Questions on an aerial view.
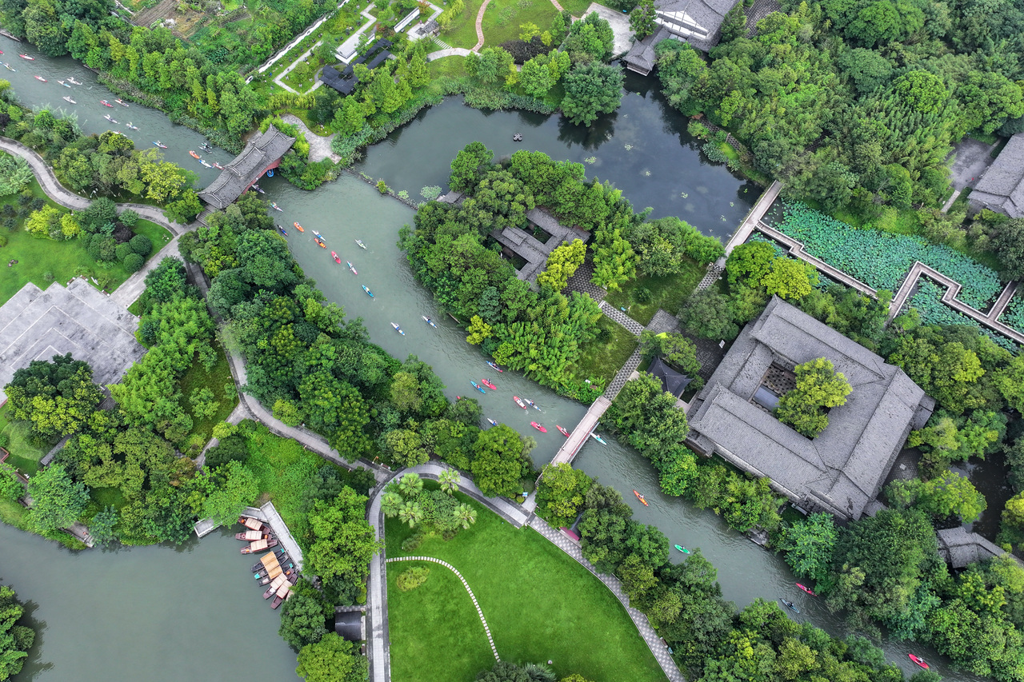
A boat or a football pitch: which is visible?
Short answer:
boat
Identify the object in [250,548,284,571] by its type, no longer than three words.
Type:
boat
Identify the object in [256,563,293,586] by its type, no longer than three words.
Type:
boat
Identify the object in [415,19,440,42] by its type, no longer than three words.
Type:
shed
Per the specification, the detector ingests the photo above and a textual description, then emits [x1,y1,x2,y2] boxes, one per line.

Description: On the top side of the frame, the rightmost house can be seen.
[965,128,1024,224]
